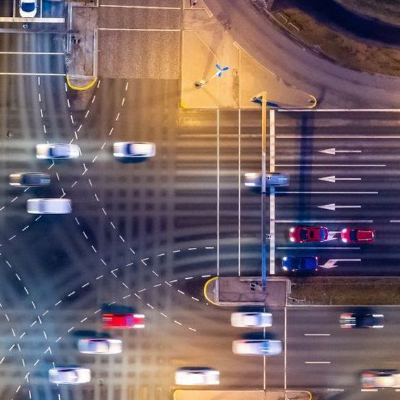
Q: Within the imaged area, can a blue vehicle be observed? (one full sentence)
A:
Yes, a blue vehicle appears in the view.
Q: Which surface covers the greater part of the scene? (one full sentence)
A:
For the most part, this view shows paved ground.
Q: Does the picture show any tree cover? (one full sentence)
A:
No, the scene doesn't show any tree cover.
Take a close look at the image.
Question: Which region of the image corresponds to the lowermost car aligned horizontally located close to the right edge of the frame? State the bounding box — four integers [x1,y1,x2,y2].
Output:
[362,369,400,388]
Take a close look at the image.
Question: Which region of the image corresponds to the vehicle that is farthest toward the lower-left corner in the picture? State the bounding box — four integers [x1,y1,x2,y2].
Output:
[49,365,90,385]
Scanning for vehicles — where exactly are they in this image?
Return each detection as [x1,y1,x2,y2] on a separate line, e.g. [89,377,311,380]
[340,225,375,245]
[176,367,219,386]
[27,196,70,215]
[230,310,270,329]
[233,337,280,356]
[282,254,320,273]
[289,225,329,244]
[19,0,38,18]
[341,310,382,329]
[362,369,400,388]
[102,311,143,330]
[36,141,79,160]
[78,336,121,355]
[49,365,90,385]
[113,141,155,159]
[10,170,51,188]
